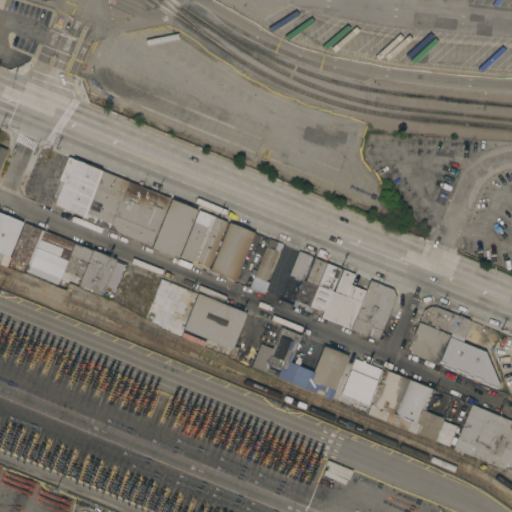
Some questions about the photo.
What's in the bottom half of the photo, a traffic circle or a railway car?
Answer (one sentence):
The one visible in the bottom half of the photo is a railway car.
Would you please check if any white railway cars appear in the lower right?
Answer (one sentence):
Yes, a white railway car can be seen in the lower right.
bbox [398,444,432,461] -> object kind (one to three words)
rail car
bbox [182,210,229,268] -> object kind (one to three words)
building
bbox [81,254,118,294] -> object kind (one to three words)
building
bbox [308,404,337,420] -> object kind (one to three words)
rail car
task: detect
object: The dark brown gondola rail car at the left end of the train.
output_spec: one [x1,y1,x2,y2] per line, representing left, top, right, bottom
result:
[238,374,284,398]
